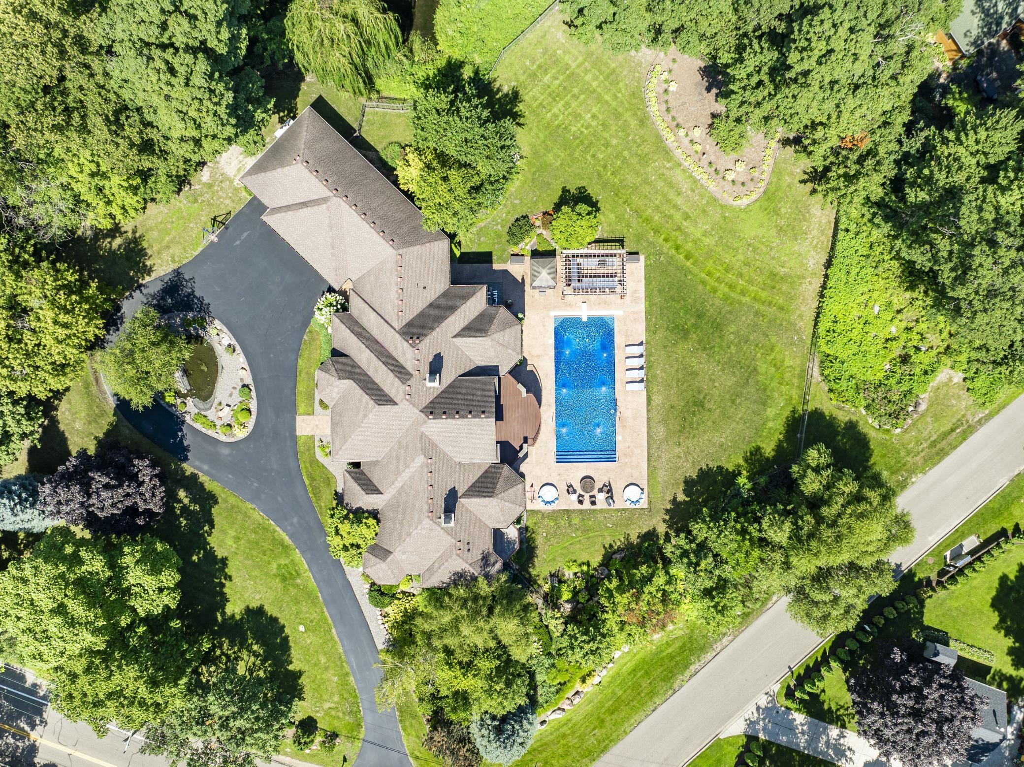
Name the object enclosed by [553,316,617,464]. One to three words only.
swimming pool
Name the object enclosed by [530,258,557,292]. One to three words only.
gazebo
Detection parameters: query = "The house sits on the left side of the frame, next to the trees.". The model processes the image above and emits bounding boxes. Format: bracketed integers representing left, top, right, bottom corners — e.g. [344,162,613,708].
[238,105,527,588]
